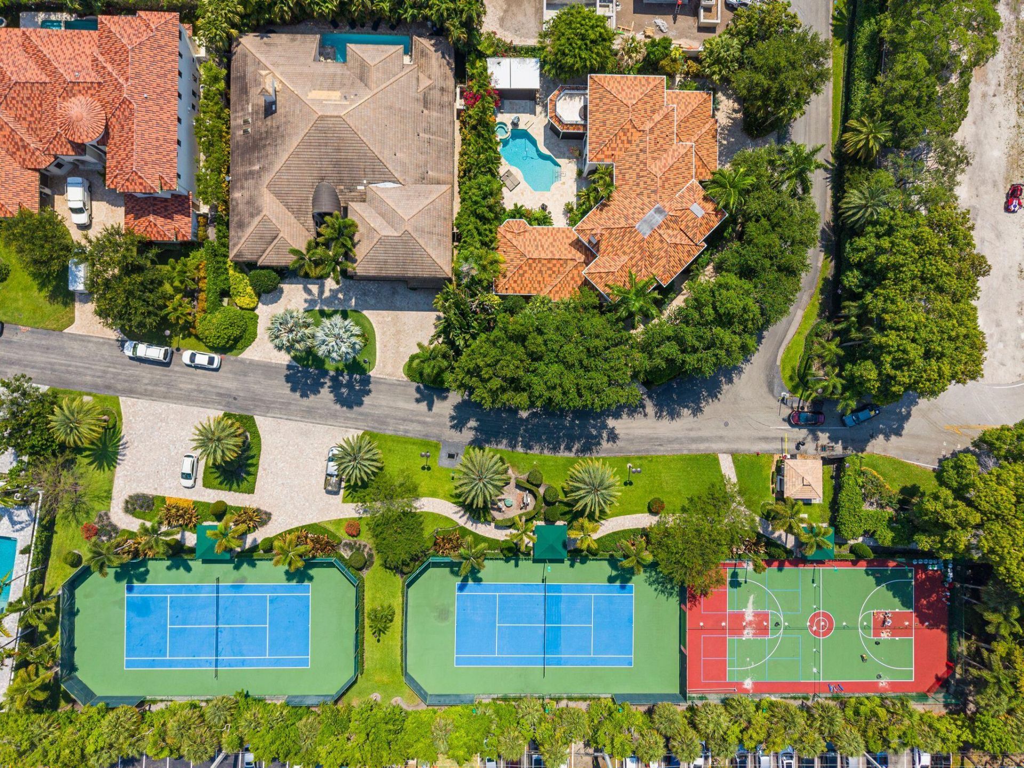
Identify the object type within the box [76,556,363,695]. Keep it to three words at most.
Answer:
tennis court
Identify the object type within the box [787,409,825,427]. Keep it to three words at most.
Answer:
car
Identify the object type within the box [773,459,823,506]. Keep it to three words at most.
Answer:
building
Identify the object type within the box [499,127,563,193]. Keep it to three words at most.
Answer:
swimming pool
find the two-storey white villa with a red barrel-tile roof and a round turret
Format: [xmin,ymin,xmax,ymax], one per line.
[0,10,204,242]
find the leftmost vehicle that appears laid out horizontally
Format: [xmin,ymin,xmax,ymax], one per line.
[125,341,174,363]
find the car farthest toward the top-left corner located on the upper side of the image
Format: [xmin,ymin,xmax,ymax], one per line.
[70,178,94,226]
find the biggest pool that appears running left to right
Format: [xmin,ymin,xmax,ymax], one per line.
[319,32,412,63]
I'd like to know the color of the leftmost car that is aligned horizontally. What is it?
white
